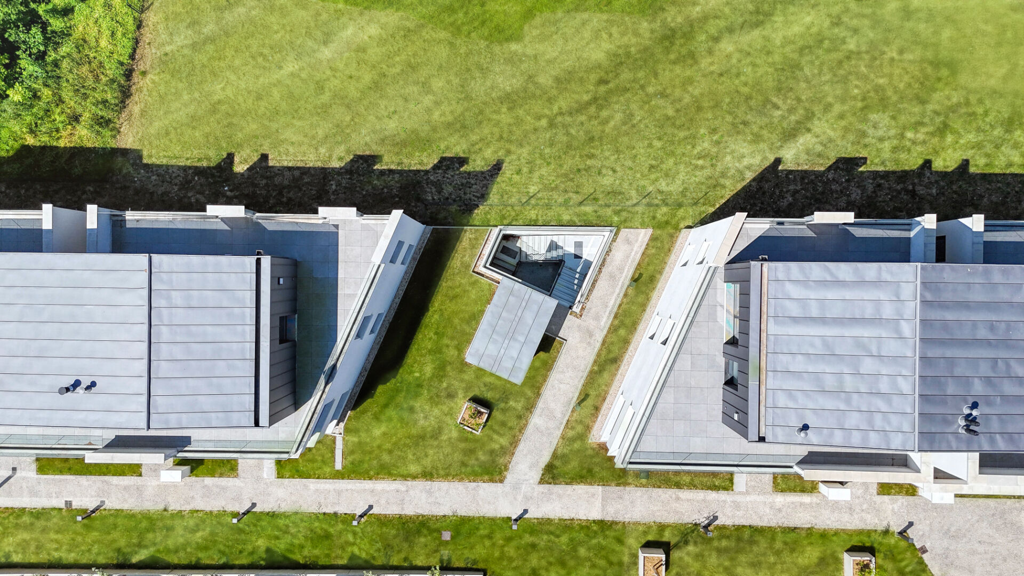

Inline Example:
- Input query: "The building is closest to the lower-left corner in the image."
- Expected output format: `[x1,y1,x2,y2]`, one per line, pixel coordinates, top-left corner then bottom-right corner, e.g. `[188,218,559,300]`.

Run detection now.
[0,204,426,463]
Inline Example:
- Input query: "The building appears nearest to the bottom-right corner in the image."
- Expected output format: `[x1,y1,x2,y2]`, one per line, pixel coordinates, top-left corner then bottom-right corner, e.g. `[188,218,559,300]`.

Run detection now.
[599,212,1024,495]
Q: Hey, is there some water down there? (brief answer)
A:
No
